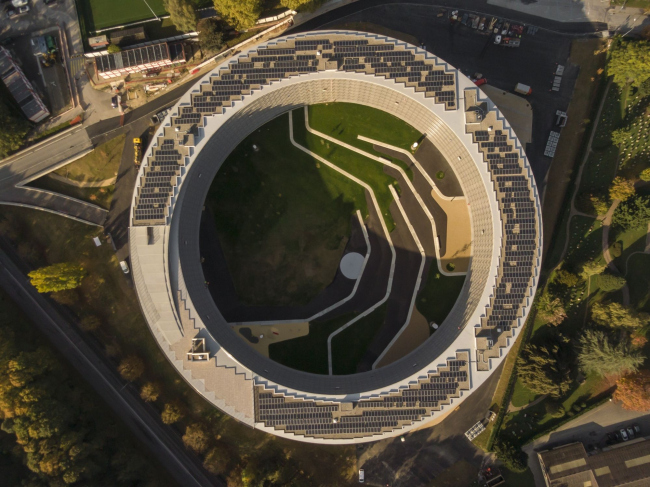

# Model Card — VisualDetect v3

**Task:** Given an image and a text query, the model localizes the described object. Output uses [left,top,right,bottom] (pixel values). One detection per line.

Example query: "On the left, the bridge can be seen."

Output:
[0,124,95,193]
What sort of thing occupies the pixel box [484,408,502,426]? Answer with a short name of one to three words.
vehicle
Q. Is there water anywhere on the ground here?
No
